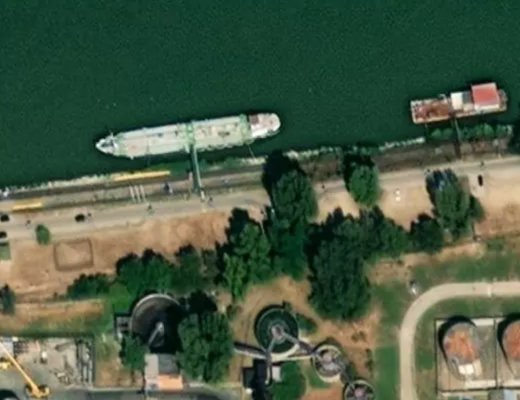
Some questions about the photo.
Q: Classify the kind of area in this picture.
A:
industrial area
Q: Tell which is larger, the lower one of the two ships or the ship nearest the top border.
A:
the lower one of the two ships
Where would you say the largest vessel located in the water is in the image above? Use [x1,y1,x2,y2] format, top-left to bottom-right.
[95,114,281,158]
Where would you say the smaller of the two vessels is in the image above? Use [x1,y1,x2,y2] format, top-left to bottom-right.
[411,89,506,123]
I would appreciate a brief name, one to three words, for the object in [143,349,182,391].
building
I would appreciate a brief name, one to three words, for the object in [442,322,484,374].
storage tank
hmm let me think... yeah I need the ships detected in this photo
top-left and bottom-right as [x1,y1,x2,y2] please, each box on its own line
[95,114,281,158]
[411,89,506,123]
